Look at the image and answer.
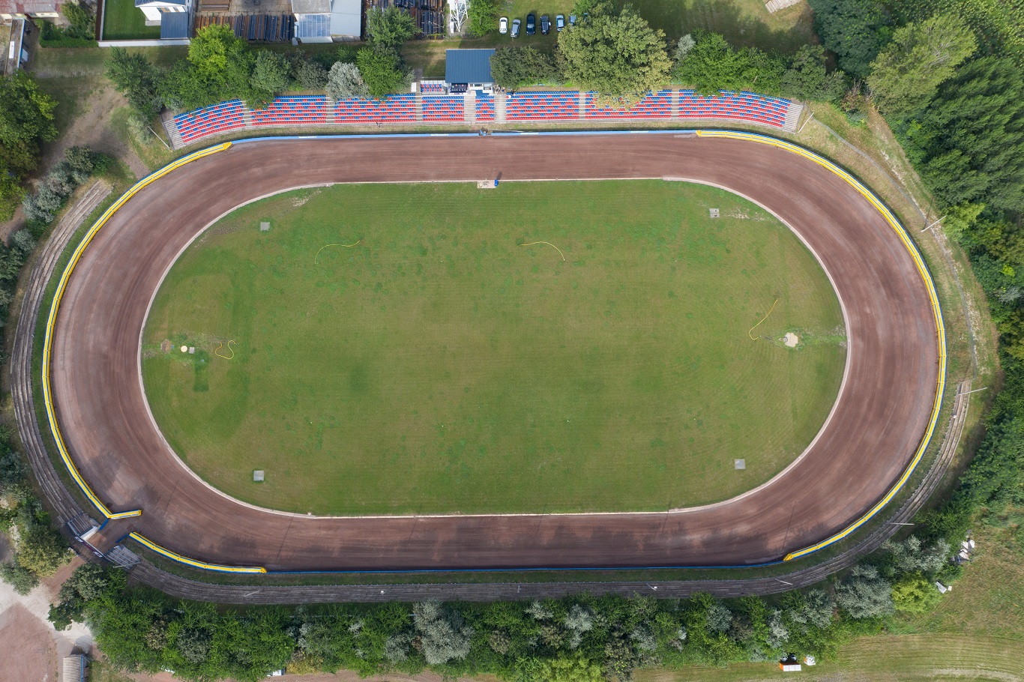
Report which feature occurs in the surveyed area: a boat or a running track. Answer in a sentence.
This aerial view contains a running track.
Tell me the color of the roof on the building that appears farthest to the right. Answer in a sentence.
The roof over the building that appears farthest to the right appears blue.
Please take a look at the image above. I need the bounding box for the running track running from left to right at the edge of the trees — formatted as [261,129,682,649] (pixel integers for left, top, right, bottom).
[51,133,937,574]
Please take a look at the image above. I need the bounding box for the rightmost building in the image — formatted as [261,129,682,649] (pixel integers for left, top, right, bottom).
[445,48,496,97]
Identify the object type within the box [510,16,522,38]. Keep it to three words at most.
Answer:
vehicle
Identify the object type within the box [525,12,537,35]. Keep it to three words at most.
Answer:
vehicle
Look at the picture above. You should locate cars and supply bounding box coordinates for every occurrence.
[555,12,566,32]
[510,16,522,38]
[568,10,578,30]
[539,14,549,35]
[525,12,537,35]
[498,15,509,34]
